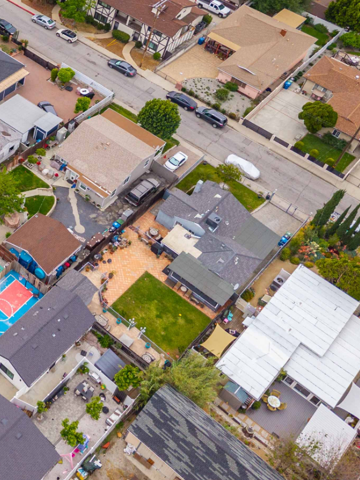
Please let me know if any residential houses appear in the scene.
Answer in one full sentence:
Yes, a residential house can be made out from above.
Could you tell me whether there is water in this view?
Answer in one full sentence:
No, water can't be seen anywhere here.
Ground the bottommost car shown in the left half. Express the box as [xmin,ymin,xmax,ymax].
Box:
[123,175,163,207]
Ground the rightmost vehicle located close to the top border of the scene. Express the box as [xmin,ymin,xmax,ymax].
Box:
[195,0,232,18]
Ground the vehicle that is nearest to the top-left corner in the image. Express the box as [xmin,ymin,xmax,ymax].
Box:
[0,18,18,36]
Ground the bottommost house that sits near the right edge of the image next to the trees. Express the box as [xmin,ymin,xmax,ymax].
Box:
[218,266,360,415]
